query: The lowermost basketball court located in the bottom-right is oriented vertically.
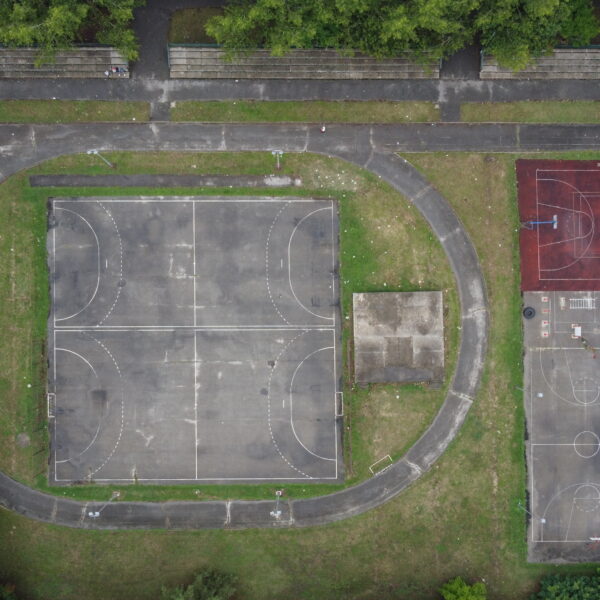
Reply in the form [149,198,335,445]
[524,346,600,562]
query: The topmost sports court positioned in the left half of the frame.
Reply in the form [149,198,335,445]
[47,196,342,328]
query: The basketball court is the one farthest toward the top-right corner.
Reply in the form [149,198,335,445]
[516,159,600,292]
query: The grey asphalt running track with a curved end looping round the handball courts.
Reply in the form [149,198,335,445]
[0,123,600,530]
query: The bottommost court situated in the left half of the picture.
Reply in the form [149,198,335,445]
[47,328,345,486]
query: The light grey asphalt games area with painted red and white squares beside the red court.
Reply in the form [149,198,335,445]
[521,291,600,349]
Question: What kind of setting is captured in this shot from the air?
sports ground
